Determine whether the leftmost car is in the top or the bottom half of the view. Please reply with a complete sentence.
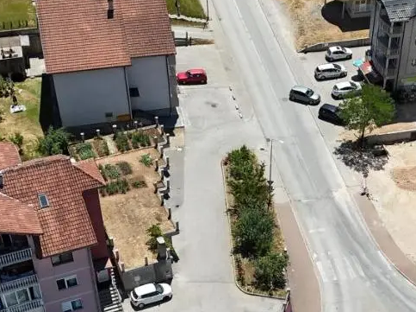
The leftmost car sits in the bottom half of the picture.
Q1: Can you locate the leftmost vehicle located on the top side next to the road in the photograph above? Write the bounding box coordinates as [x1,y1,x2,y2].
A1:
[176,67,208,85]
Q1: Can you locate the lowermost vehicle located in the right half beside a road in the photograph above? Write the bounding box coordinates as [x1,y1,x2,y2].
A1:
[316,99,352,123]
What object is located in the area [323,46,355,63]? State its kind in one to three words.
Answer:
car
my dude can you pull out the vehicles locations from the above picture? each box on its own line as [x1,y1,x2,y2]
[331,79,362,98]
[176,67,208,85]
[315,62,348,80]
[126,280,176,309]
[287,83,321,105]
[316,99,352,123]
[323,46,355,63]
